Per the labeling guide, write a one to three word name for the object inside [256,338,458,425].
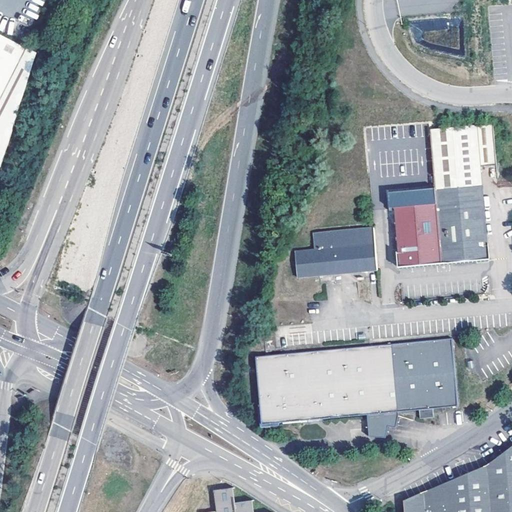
building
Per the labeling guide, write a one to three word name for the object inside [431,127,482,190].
shed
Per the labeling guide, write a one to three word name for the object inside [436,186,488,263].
building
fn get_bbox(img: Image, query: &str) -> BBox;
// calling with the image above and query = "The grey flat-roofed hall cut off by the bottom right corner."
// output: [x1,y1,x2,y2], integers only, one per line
[403,444,512,512]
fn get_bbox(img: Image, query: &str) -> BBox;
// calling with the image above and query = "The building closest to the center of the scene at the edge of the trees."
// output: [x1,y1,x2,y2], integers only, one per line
[295,227,378,278]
